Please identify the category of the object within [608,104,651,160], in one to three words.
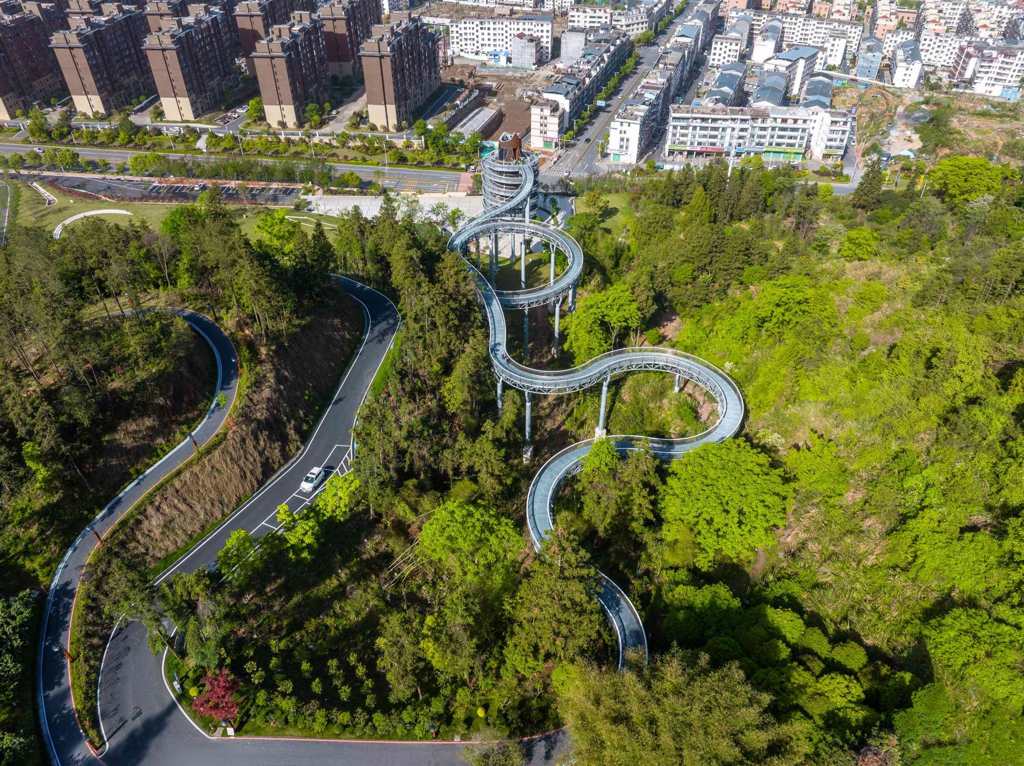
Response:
building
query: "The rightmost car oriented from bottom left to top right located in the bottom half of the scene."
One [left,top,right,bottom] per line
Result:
[298,463,327,491]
